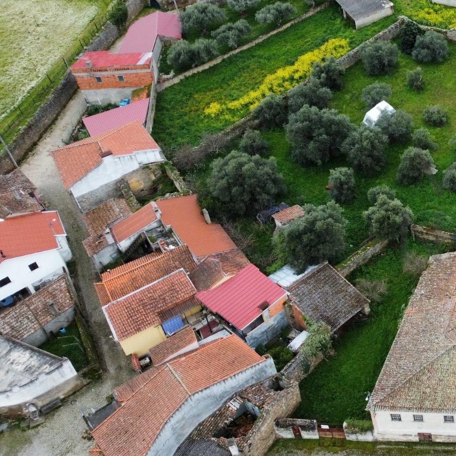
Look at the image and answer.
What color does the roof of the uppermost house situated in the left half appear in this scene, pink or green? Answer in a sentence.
In this view, the roof of the uppermost house situated in the left half is pink.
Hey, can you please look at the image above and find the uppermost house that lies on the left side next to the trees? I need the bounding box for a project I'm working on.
[119,11,182,62]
